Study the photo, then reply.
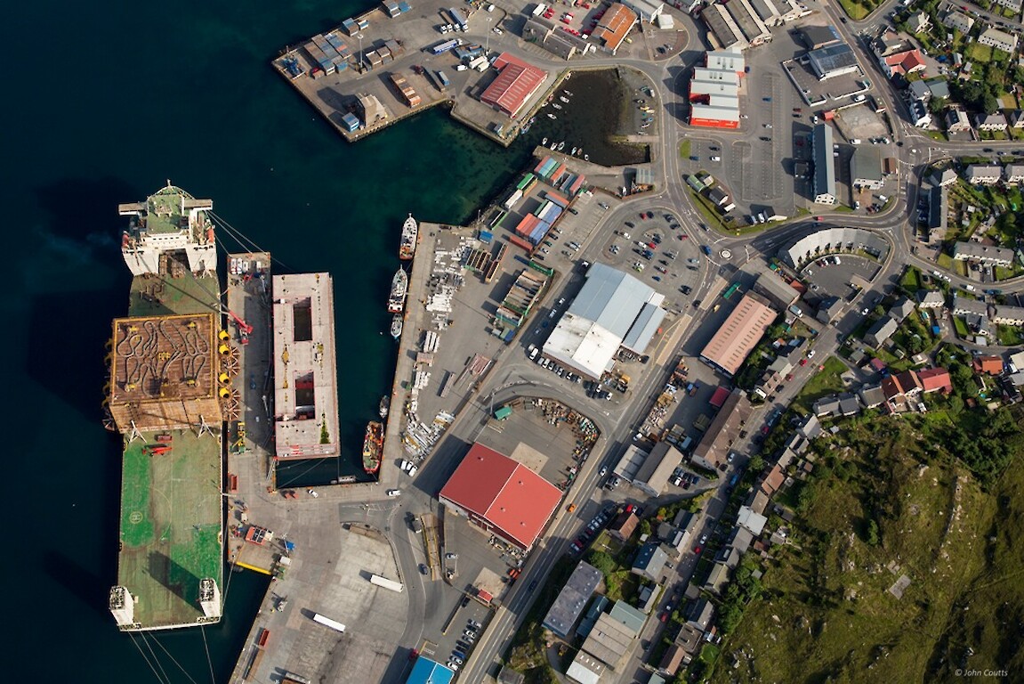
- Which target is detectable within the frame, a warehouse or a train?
warehouse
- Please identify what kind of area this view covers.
port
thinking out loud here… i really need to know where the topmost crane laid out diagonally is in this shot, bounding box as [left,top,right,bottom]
[173,256,254,349]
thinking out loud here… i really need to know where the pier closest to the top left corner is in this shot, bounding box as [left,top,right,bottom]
[272,0,449,145]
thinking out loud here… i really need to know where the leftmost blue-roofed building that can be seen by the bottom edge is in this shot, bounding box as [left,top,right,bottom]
[403,654,456,684]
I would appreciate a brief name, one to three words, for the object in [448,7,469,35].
truck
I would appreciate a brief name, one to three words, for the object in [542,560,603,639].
building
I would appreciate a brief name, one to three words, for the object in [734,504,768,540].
house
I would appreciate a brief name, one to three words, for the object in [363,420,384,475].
boat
